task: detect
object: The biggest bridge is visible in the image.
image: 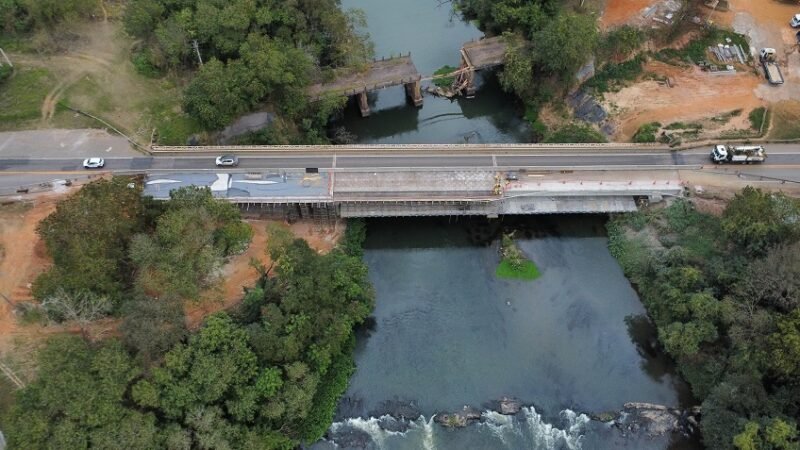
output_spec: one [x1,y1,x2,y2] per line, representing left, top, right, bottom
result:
[118,141,702,220]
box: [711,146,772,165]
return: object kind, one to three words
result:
vehicle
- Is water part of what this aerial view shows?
Yes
